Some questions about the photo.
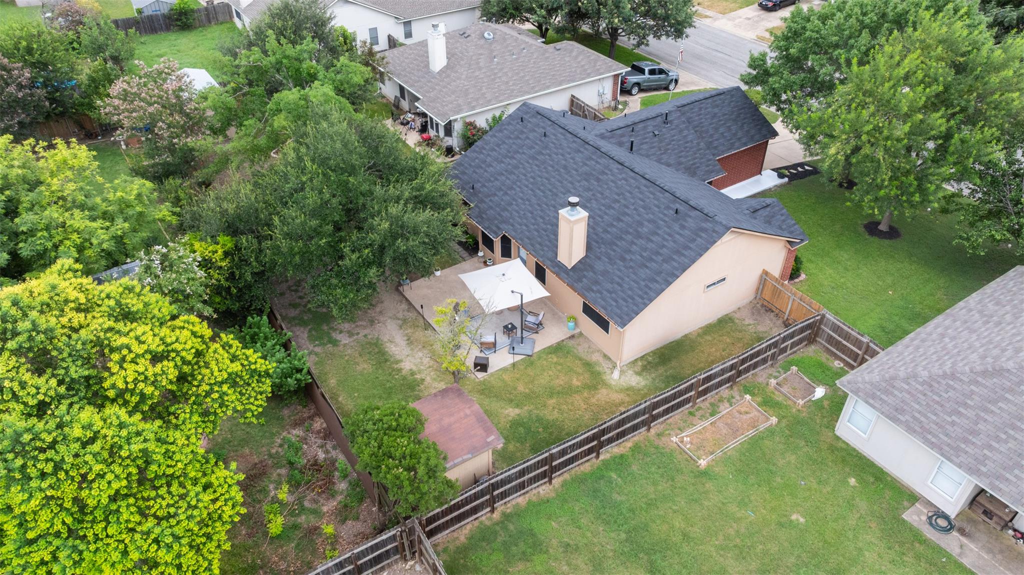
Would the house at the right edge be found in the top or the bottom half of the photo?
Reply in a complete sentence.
The house at the right edge is in the bottom half of the image.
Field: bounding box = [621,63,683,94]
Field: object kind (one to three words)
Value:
truck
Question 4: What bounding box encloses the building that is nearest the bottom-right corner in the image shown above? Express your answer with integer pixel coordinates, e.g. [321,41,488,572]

[834,268,1024,530]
